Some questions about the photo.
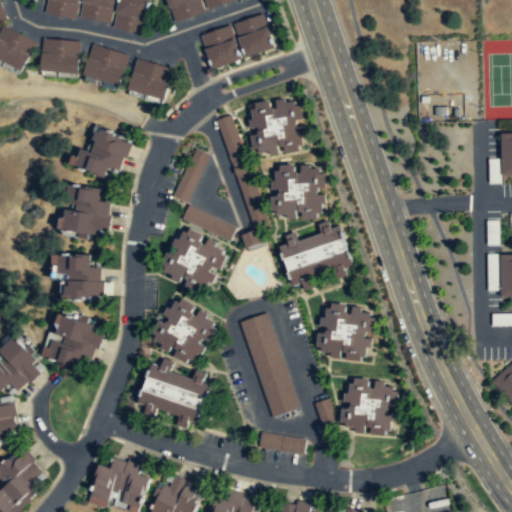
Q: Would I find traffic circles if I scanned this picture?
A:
No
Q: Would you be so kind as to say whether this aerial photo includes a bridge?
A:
No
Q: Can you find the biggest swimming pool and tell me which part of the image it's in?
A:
center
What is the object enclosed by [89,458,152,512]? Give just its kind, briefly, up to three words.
house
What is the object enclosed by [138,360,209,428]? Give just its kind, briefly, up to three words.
building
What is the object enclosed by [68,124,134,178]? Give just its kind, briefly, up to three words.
house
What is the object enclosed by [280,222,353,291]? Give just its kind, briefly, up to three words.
building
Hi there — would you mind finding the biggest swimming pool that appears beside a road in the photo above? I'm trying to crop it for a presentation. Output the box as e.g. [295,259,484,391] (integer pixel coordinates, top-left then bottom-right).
[227,246,280,300]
